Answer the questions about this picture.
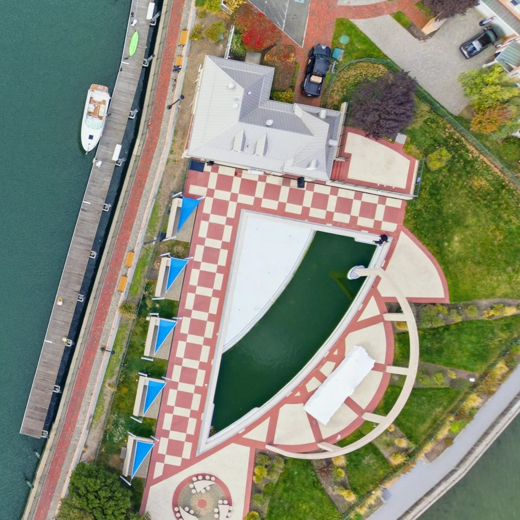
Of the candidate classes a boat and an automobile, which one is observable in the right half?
automobile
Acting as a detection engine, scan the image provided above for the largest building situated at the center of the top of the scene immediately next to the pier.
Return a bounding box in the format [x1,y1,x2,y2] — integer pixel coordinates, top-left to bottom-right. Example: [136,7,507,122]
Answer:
[184,55,343,181]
